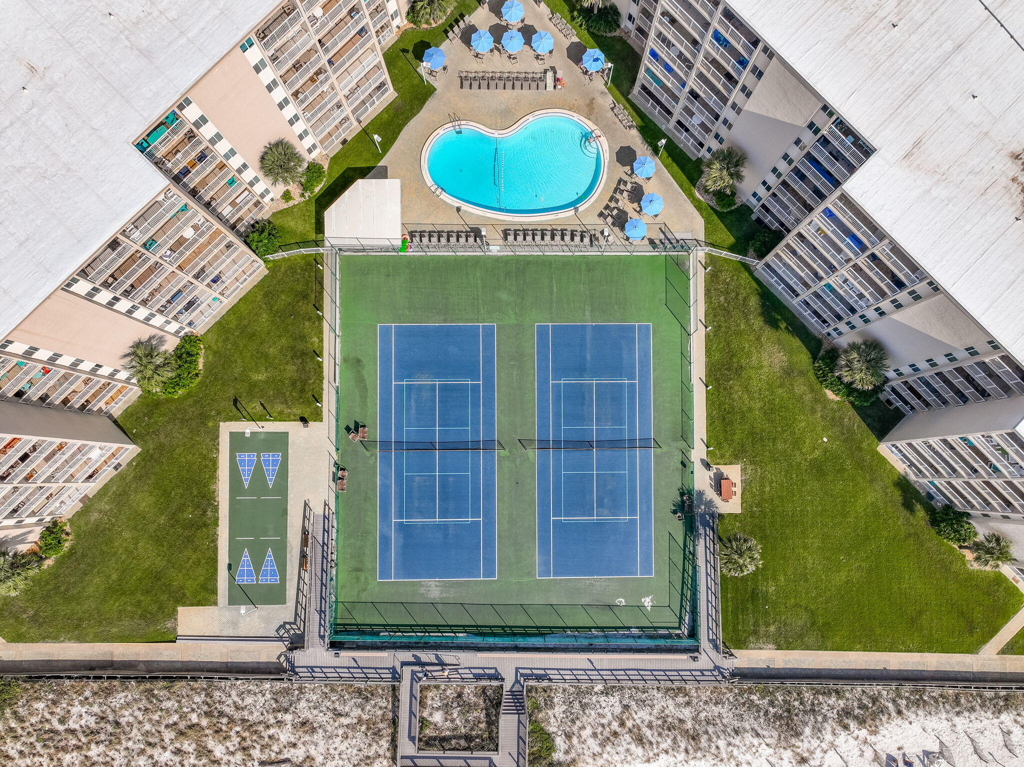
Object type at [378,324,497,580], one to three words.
tennis court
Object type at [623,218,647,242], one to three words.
umbrella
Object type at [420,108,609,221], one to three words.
swimming pool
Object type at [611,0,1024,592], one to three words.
building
